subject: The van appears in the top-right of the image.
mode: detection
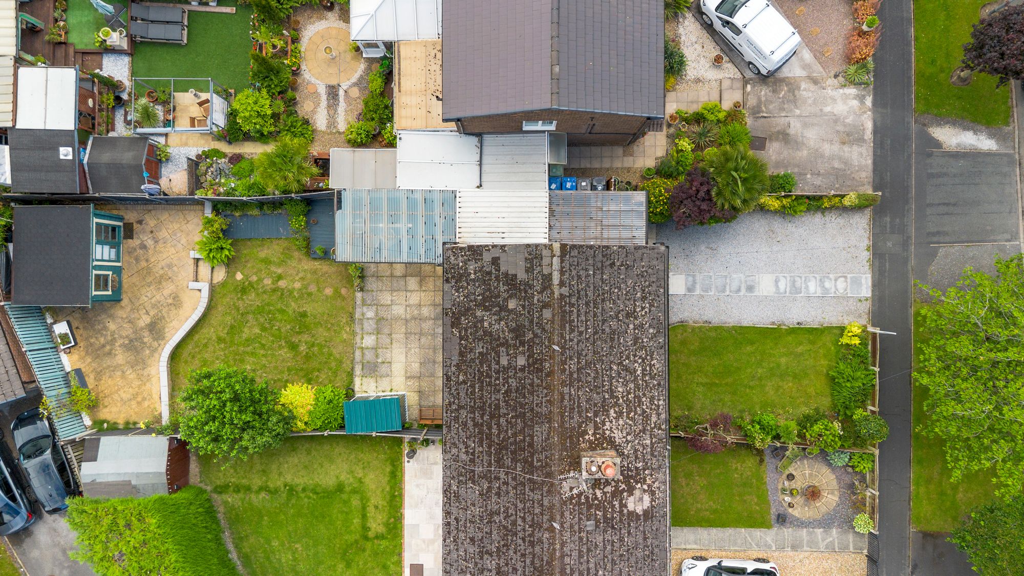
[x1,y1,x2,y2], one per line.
[700,0,804,81]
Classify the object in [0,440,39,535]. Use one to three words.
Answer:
car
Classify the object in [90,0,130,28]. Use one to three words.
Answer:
umbrella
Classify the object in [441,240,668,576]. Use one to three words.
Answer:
house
